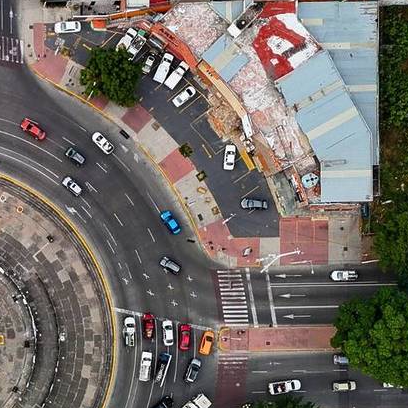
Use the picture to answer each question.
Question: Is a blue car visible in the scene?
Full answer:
Yes, there's a blue car down there.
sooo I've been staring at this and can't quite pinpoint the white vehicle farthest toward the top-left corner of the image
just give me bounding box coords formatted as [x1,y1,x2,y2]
[55,19,81,32]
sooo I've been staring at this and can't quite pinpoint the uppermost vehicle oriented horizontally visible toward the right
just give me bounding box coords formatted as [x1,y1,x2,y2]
[242,197,268,209]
